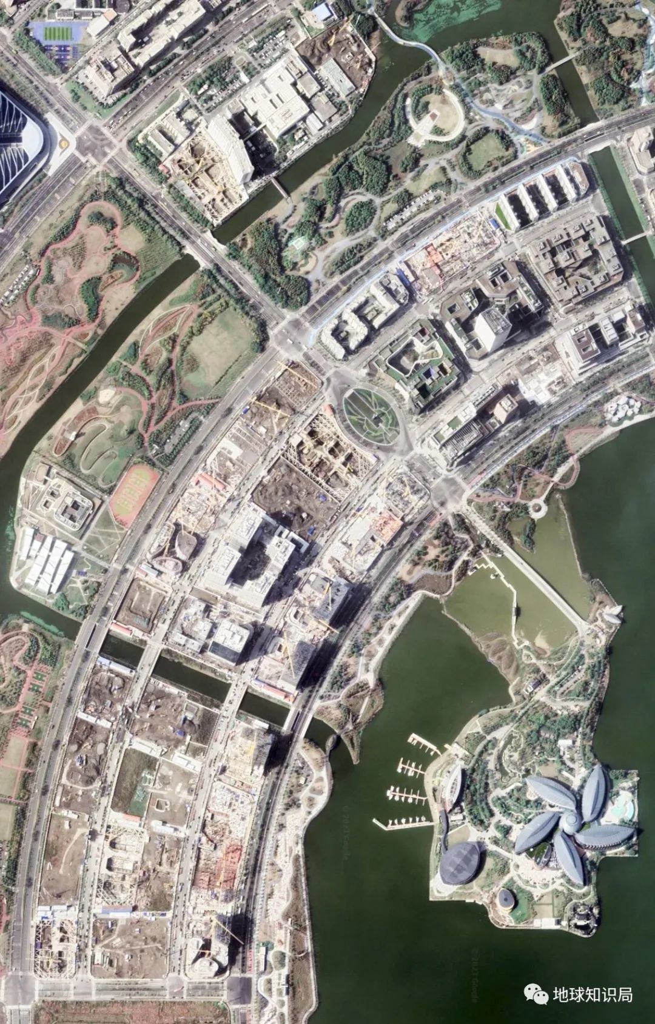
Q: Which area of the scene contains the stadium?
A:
top left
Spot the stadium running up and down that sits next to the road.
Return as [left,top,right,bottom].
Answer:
[0,86,51,205]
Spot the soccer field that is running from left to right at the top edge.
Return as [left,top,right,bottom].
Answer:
[29,22,91,44]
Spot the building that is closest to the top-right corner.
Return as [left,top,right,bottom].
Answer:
[628,126,654,176]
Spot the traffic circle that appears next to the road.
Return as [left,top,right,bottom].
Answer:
[324,369,416,458]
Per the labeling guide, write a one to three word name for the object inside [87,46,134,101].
building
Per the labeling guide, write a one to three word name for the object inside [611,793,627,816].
swimming pool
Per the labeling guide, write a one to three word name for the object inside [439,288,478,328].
building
